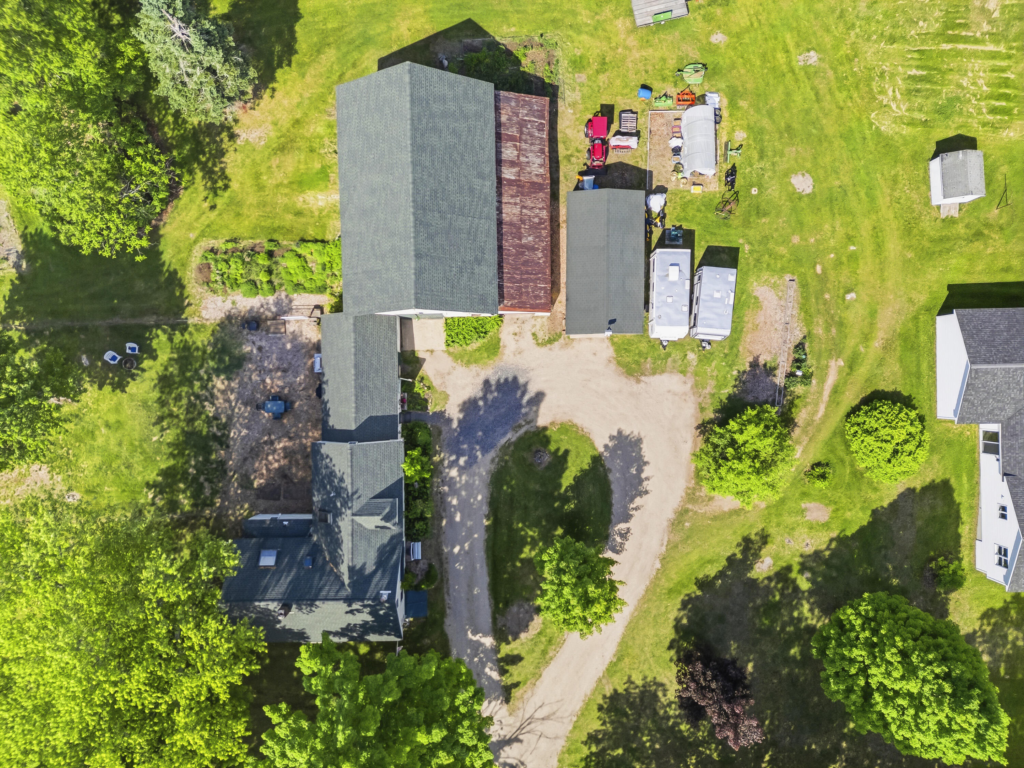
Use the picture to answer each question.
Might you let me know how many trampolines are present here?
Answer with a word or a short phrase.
0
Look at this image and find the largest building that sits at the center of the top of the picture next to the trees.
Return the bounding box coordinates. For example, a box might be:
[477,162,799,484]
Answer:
[335,61,551,324]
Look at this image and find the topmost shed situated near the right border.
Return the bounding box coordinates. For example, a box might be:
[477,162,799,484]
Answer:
[929,149,986,206]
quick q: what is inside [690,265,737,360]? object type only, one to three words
vehicle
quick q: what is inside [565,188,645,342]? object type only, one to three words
building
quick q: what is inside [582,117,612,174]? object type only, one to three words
work vehicle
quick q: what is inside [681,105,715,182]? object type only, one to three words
building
